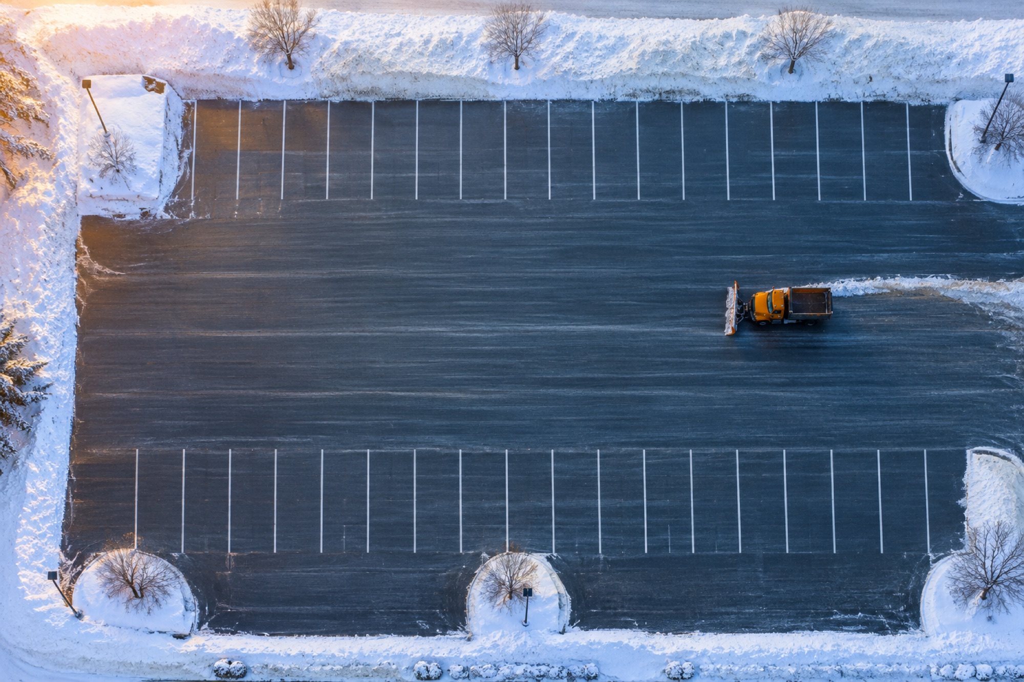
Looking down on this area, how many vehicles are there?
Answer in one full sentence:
Altogether the scene contains 1 vehicle.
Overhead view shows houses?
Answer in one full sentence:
No, the frame has no house in it.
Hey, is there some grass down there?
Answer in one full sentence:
No, there is no grass in the image.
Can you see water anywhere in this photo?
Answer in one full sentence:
No, the picture contains no water.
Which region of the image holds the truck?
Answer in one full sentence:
The truck sits in the right section of the image.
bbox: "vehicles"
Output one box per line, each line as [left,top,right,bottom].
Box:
[731,280,833,338]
